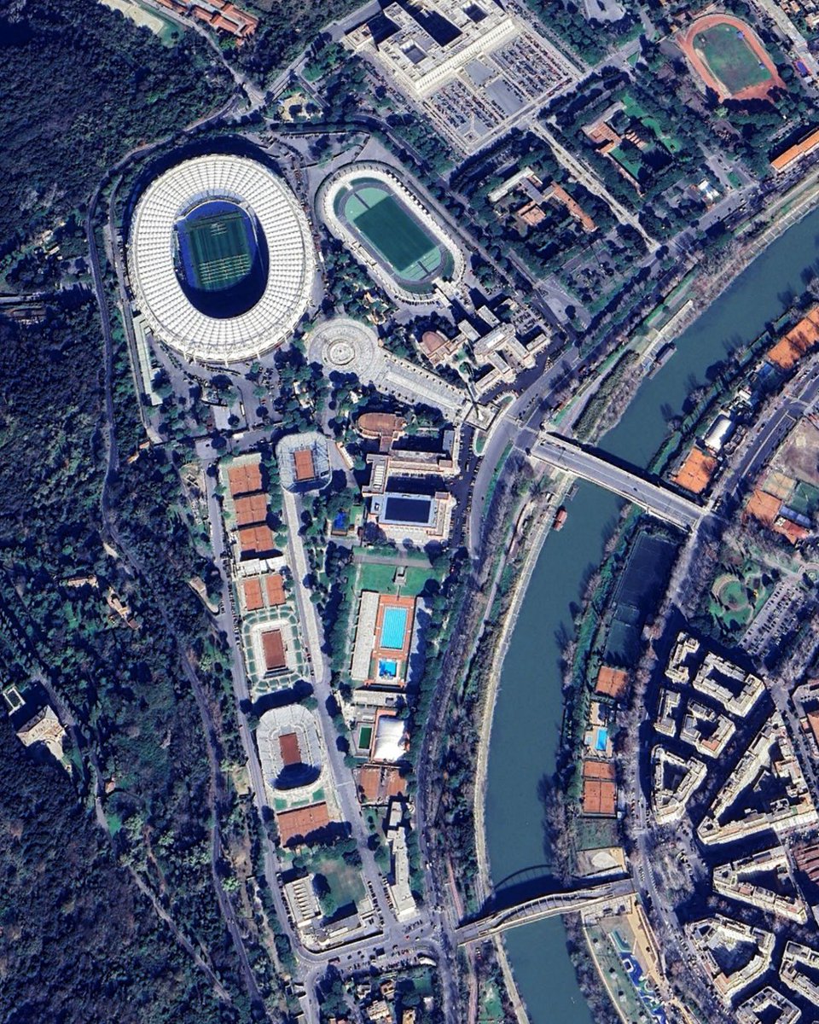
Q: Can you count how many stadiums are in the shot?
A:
5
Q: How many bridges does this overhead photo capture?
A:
two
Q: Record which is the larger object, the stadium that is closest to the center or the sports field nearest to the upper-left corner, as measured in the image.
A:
the sports field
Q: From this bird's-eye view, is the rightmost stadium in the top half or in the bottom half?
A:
top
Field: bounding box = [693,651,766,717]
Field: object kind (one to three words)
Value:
building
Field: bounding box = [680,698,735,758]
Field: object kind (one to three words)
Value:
building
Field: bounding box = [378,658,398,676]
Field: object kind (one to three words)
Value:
swimming pool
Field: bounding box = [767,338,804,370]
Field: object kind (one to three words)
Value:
tennis court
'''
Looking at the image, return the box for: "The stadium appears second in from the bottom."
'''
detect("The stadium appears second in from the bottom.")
[245,608,311,691]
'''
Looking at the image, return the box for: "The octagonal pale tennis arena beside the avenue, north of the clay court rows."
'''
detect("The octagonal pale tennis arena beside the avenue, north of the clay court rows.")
[277,432,332,495]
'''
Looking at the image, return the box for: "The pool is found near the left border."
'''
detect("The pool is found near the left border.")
[8,685,25,711]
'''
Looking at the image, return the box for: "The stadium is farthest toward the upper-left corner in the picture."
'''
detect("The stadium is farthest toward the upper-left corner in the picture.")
[128,154,317,364]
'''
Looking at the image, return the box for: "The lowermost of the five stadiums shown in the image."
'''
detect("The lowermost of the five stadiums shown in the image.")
[257,703,324,796]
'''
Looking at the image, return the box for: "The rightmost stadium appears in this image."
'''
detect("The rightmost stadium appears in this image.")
[315,152,474,312]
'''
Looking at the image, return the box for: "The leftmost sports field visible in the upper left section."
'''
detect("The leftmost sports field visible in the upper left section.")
[182,206,260,308]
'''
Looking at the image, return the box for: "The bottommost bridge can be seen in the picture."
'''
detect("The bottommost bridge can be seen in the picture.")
[455,879,636,945]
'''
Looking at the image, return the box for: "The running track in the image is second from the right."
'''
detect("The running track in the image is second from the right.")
[334,171,455,293]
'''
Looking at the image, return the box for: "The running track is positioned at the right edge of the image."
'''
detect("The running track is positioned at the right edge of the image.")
[678,11,786,102]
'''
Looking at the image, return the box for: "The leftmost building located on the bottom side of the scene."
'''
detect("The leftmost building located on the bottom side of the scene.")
[16,703,67,745]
